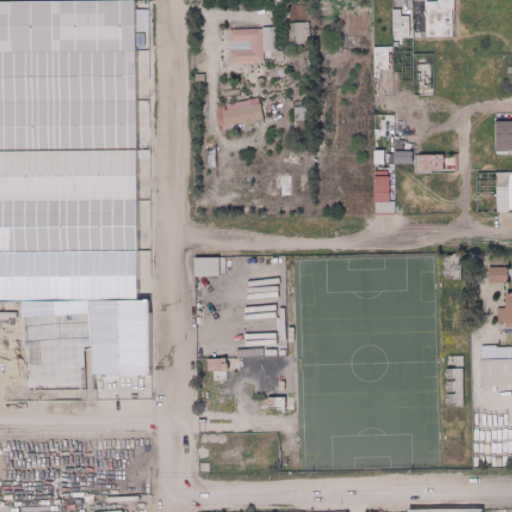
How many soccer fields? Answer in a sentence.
I count just 1 soccer field.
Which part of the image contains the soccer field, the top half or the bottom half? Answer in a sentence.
It is in the bottom half that the soccer field appears.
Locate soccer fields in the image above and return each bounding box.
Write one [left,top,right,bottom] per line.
[298,254,442,470]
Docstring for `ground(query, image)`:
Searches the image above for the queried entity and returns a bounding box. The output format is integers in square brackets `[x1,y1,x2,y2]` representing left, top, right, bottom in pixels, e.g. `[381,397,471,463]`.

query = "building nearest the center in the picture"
[195,258,219,277]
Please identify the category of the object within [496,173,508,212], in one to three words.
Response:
barn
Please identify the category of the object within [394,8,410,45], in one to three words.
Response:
house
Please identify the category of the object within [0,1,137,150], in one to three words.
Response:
building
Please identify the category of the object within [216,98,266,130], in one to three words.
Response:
house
